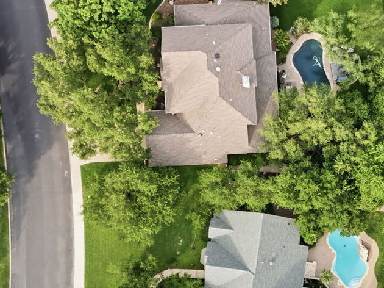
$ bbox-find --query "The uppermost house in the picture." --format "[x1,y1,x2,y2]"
[145,1,280,166]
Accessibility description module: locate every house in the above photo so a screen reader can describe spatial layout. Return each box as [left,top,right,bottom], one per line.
[145,1,280,166]
[205,211,309,288]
